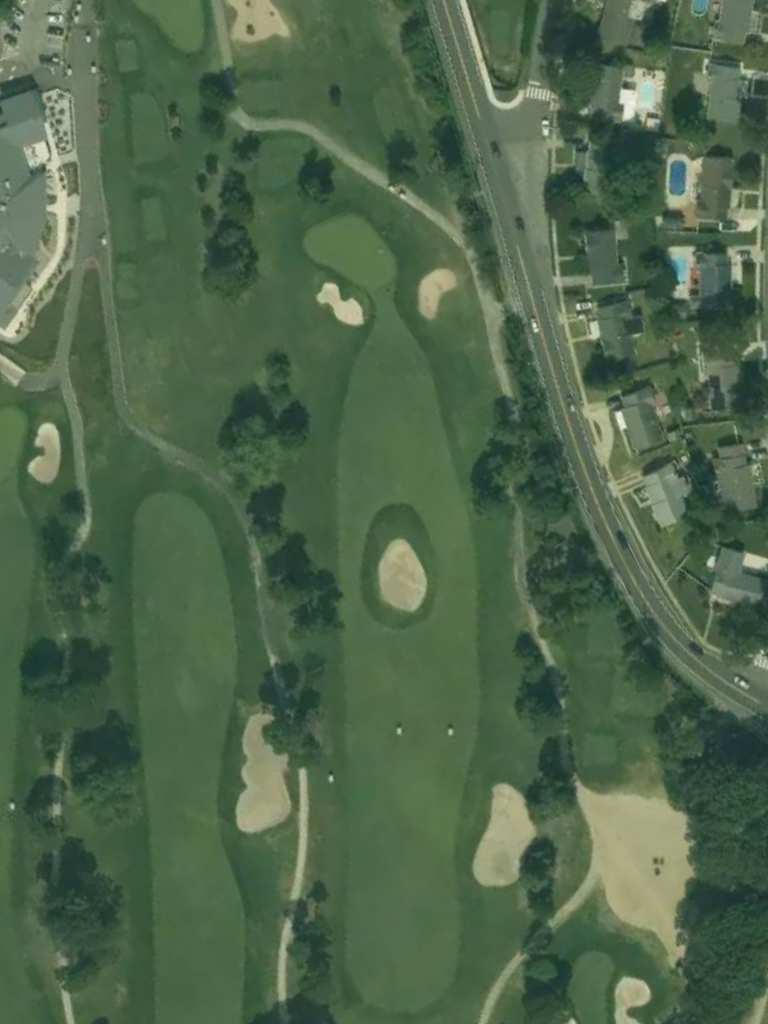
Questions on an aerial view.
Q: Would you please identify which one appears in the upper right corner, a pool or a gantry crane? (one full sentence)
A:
There is a pool in the upper right corner.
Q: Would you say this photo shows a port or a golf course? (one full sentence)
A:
It's a golf course.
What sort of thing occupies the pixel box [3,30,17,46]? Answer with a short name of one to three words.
car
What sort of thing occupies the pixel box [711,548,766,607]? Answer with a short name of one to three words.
house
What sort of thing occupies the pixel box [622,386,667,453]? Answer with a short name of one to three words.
house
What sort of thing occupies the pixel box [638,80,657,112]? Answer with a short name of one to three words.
swimming pool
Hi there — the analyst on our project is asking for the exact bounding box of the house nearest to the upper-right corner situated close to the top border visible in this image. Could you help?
[710,0,754,43]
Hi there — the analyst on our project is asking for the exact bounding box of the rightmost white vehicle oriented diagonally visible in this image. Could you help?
[733,676,749,689]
